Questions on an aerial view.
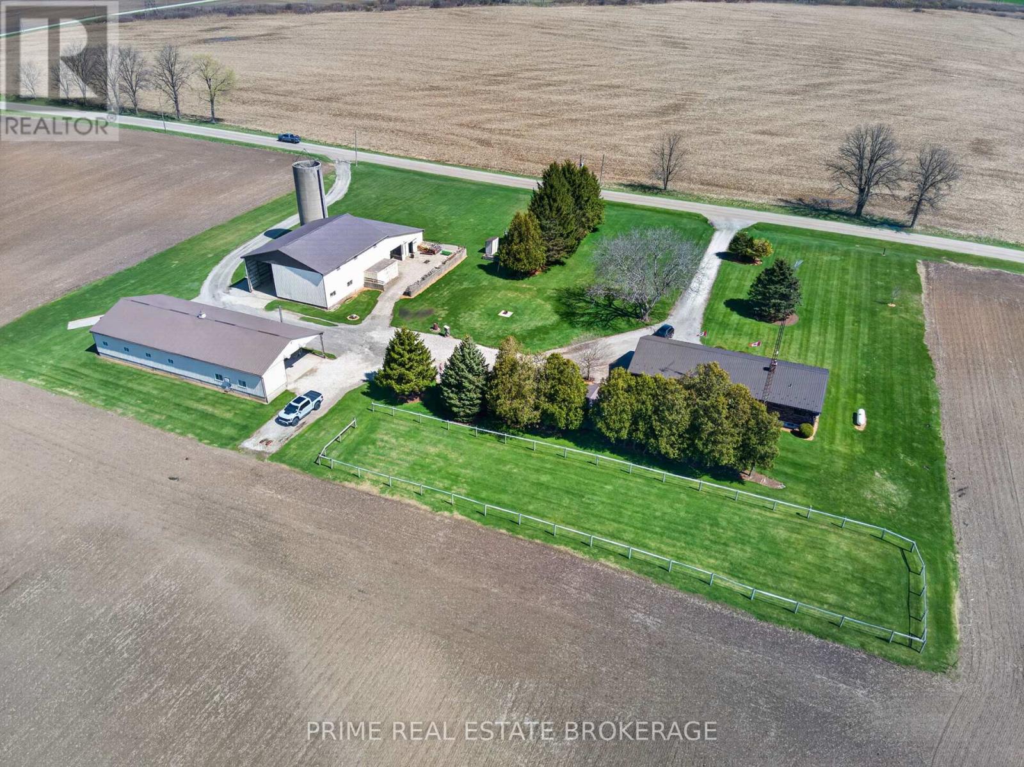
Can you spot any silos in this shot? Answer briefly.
Yes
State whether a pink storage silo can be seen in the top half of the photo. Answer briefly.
No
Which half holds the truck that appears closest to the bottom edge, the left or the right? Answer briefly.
left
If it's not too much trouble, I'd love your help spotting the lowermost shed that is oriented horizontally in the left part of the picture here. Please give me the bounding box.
[86,293,325,404]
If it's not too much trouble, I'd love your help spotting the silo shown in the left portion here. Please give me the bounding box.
[292,150,328,226]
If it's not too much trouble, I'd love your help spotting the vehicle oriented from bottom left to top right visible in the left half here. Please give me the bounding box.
[274,391,323,427]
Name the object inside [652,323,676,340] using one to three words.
car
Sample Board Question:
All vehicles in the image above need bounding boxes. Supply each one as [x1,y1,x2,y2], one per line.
[275,131,300,142]
[652,323,676,340]
[274,391,323,427]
